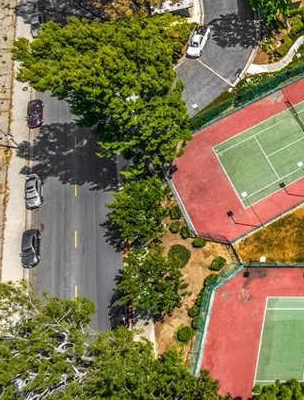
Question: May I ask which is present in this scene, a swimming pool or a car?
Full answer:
Looking from above, you can make out a car.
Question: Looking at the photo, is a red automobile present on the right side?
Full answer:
No, no red automobile appears on the right side.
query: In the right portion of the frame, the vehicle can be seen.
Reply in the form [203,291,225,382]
[189,30,210,57]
